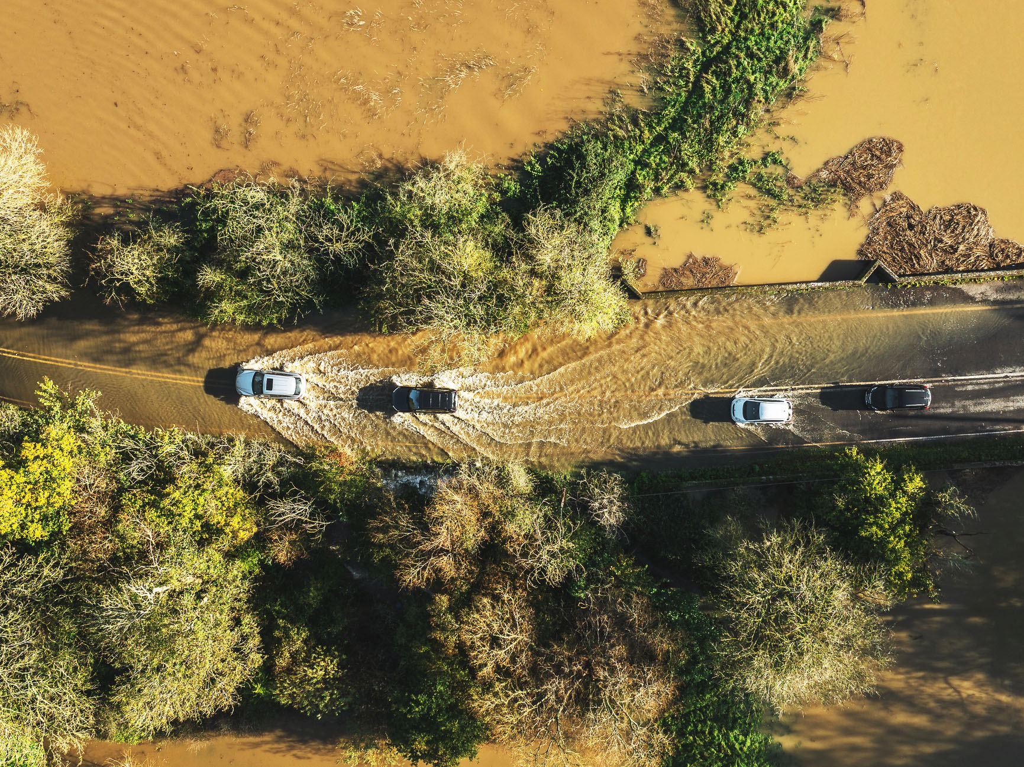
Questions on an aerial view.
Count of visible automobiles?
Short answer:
four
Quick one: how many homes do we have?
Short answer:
none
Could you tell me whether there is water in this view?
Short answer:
Yes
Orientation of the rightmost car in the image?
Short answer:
from side to side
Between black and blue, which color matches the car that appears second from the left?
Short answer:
black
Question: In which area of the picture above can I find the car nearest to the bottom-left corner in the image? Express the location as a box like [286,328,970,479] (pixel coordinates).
[238,367,311,401]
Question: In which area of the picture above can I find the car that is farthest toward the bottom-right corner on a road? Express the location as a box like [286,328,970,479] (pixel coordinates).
[861,381,934,414]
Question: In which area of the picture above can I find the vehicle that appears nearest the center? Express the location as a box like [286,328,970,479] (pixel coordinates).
[393,383,460,416]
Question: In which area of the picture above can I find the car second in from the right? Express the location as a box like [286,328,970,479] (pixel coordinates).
[728,393,791,426]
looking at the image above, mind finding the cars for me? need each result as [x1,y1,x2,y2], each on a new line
[728,393,791,426]
[393,383,460,416]
[861,381,934,414]
[238,367,311,401]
